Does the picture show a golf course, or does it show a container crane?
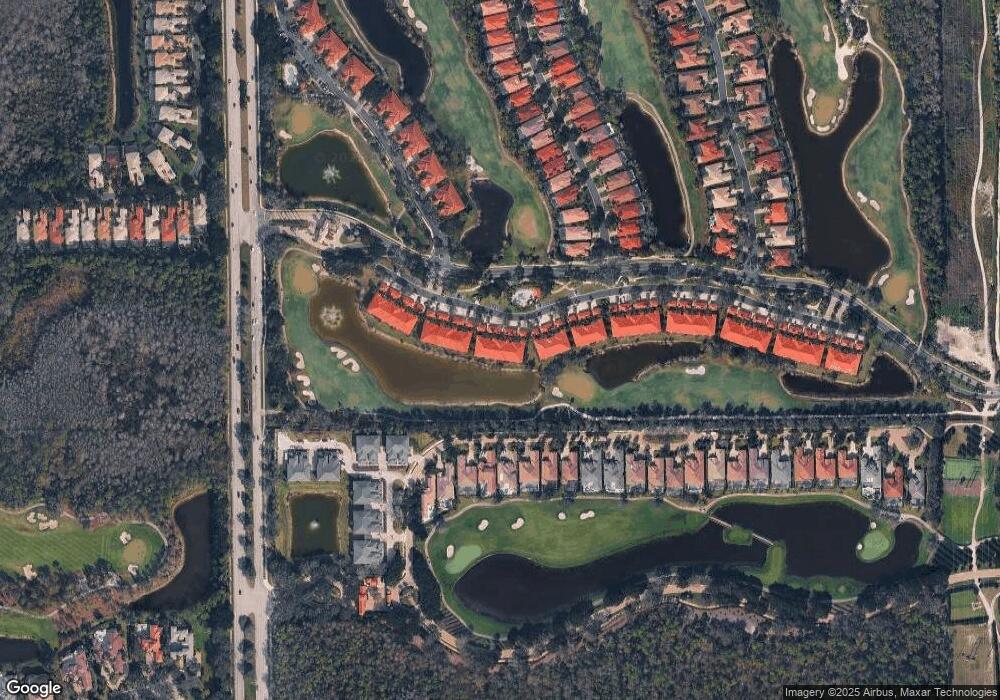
golf course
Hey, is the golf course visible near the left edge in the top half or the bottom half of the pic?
bottom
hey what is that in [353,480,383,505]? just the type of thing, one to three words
building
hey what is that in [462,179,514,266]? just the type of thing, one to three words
pond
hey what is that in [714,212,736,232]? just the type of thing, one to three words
house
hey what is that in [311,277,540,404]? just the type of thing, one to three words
pond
